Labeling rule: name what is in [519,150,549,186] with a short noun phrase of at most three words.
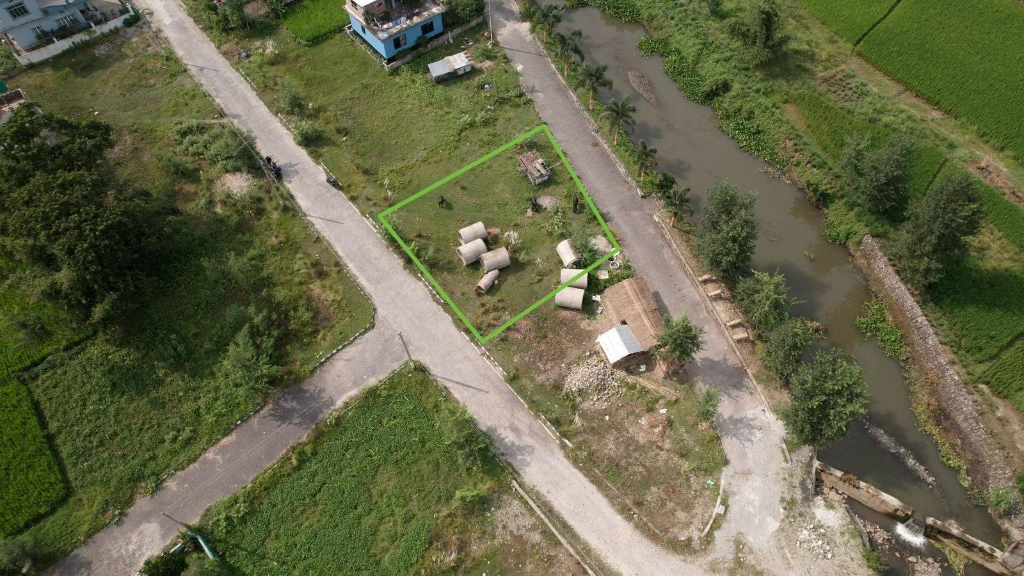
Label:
shed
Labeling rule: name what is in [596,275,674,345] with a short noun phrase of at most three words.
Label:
shed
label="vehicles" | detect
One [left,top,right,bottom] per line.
[325,170,337,185]
[271,163,282,179]
[265,158,280,170]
